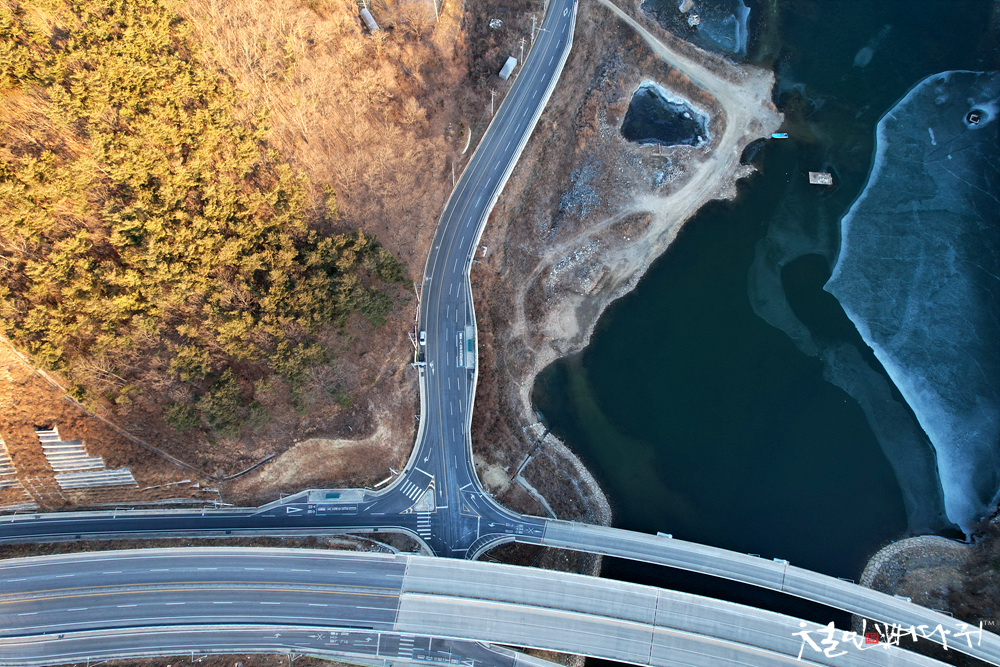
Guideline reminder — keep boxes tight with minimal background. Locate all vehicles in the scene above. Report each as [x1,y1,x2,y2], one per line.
[419,332,426,345]
[419,349,425,362]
